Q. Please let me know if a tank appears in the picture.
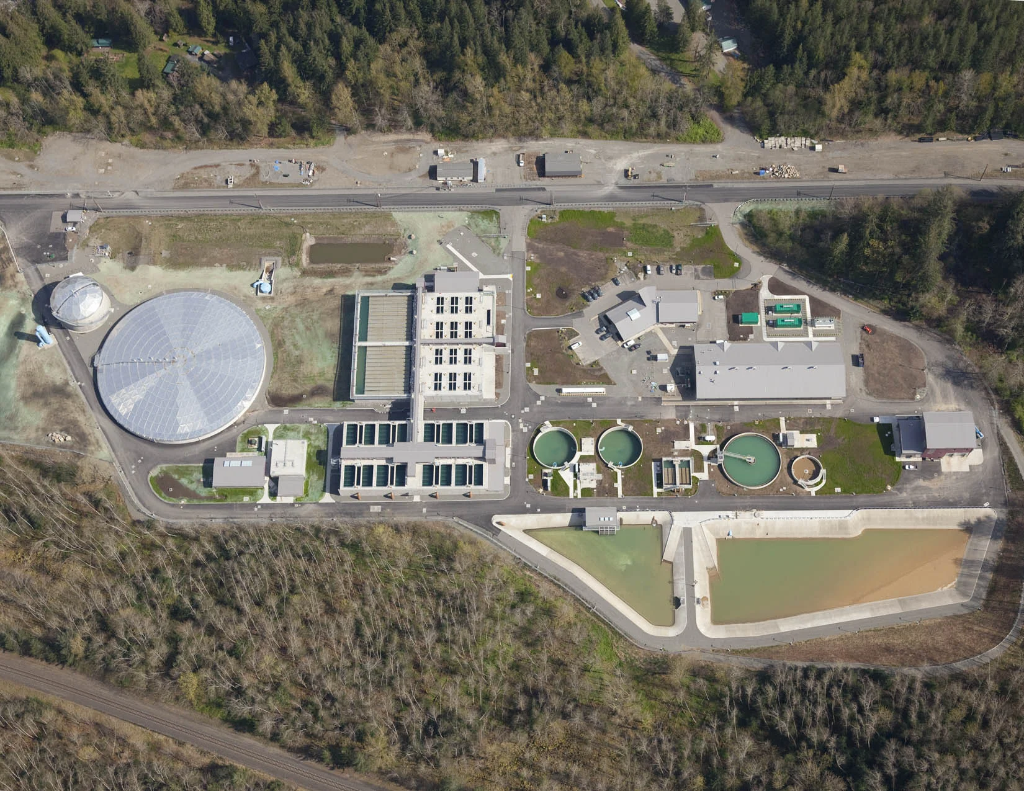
Yes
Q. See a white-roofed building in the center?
Yes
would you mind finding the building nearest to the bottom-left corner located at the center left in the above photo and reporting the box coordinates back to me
[213,457,267,489]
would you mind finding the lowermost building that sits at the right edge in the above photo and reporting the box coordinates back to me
[878,411,977,458]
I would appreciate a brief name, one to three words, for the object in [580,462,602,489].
building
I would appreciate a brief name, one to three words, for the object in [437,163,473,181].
building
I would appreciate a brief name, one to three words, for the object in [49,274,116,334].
storage tank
